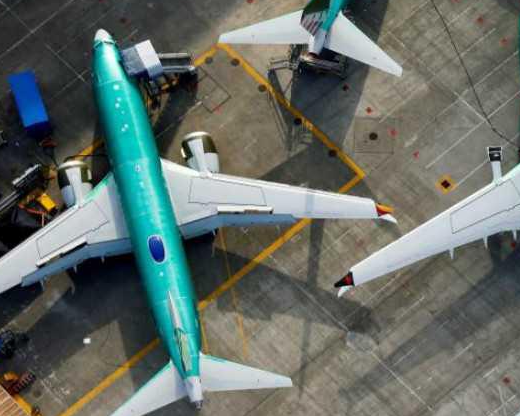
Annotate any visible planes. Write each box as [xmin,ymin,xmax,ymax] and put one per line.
[335,143,520,301]
[218,0,402,78]
[0,28,398,416]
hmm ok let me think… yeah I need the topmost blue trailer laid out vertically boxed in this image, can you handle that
[8,69,51,156]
